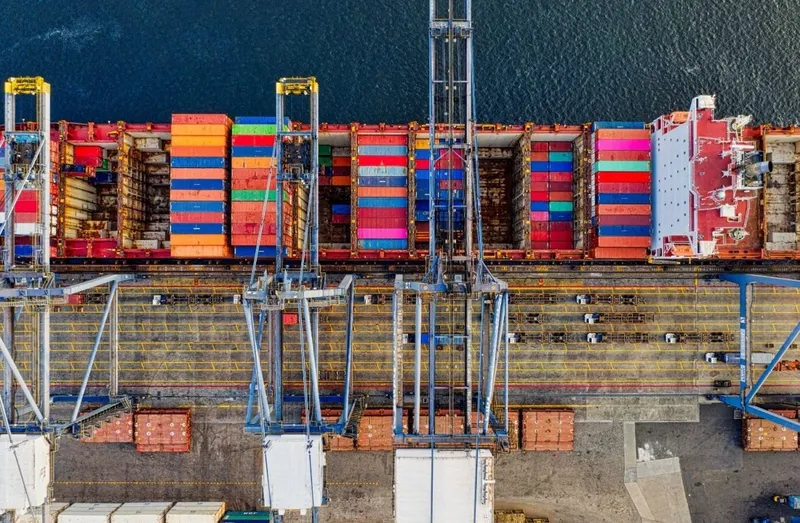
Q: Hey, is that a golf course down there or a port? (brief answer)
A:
port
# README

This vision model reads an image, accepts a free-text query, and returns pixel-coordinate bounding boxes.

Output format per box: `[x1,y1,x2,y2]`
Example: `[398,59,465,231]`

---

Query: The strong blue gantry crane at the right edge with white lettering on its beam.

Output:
[708,273,800,439]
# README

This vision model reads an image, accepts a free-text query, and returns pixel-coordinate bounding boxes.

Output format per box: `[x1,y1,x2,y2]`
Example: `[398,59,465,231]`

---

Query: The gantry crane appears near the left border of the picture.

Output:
[0,75,145,512]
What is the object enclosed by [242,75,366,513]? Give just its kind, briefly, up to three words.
container crane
